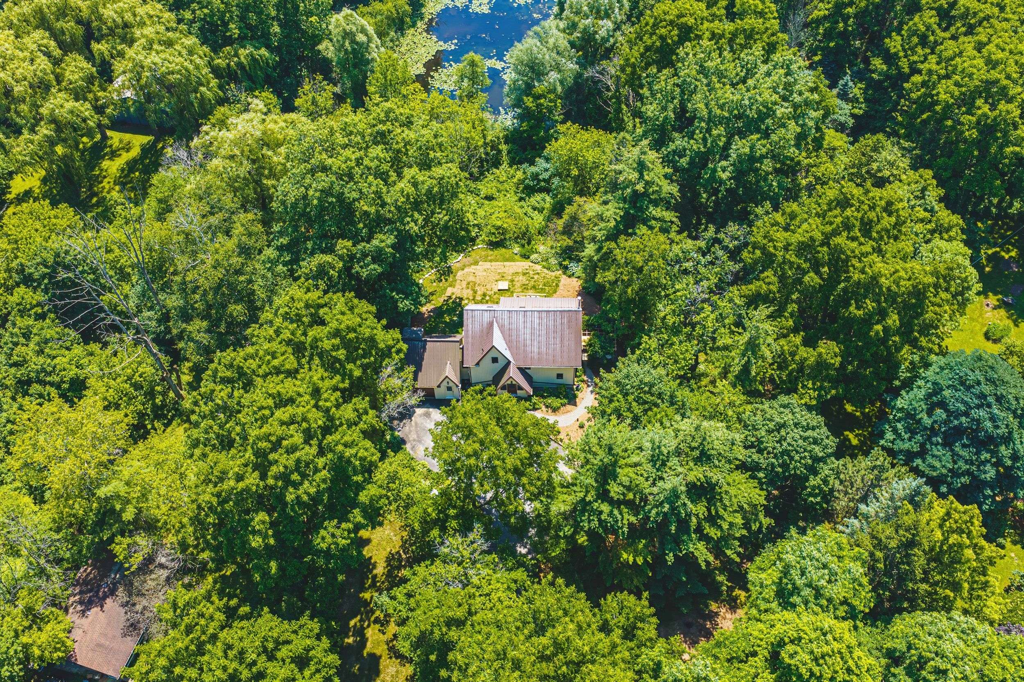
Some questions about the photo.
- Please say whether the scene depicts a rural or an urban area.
rural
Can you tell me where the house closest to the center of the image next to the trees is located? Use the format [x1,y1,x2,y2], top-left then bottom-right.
[460,294,583,400]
